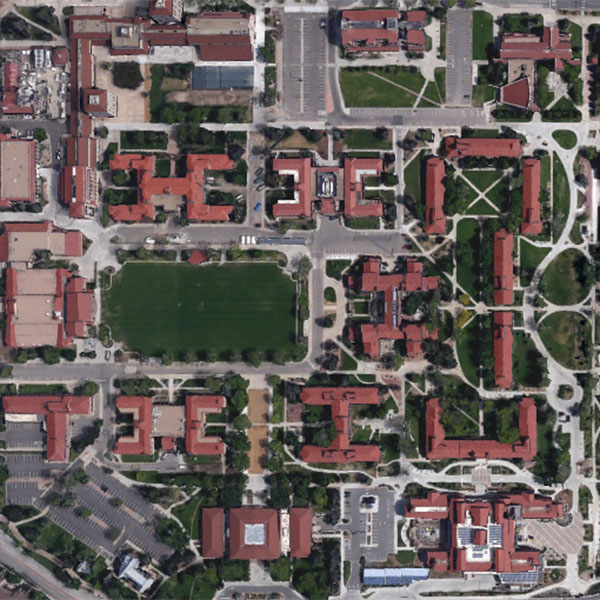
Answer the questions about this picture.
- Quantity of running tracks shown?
0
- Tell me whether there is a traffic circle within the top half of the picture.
No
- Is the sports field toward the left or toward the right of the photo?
left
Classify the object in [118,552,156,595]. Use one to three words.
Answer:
house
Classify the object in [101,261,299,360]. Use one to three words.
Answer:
sports field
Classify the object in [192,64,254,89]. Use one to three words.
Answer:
sports court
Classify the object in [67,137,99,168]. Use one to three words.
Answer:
building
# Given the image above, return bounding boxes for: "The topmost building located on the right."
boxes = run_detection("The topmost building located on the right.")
[342,10,426,53]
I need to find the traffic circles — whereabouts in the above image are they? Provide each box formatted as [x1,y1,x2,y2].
[546,366,584,415]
